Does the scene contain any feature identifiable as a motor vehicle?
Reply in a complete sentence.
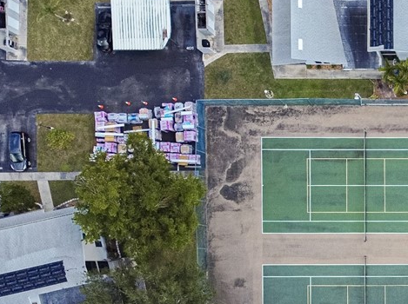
Yes, there's a motor vehicle down there.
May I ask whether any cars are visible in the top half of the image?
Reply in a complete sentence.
Yes, a car appears in the top half of the image.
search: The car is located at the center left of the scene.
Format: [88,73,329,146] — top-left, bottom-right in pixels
[4,131,28,171]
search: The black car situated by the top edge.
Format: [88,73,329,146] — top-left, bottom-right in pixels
[94,9,114,52]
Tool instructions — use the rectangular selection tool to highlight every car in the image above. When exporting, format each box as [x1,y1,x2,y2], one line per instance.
[4,131,28,171]
[94,9,114,52]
